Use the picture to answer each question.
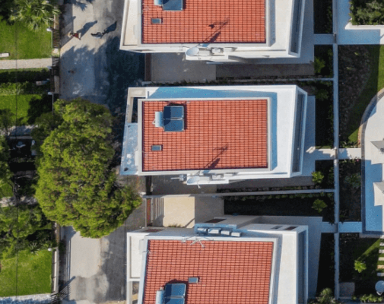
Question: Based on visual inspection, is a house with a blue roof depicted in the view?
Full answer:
No, the photo shows no house with a blue roof.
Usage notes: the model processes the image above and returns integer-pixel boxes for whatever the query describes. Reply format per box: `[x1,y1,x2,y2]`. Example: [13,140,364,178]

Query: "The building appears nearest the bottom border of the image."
[126,221,310,304]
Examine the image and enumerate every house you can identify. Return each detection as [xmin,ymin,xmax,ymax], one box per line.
[126,221,310,304]
[120,0,306,63]
[120,85,308,186]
